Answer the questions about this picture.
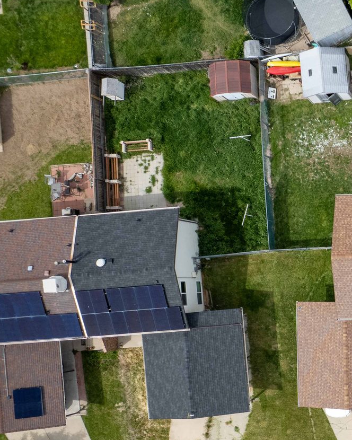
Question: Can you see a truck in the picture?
No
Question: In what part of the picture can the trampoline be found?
top right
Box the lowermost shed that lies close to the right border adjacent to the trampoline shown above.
[300,47,352,105]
